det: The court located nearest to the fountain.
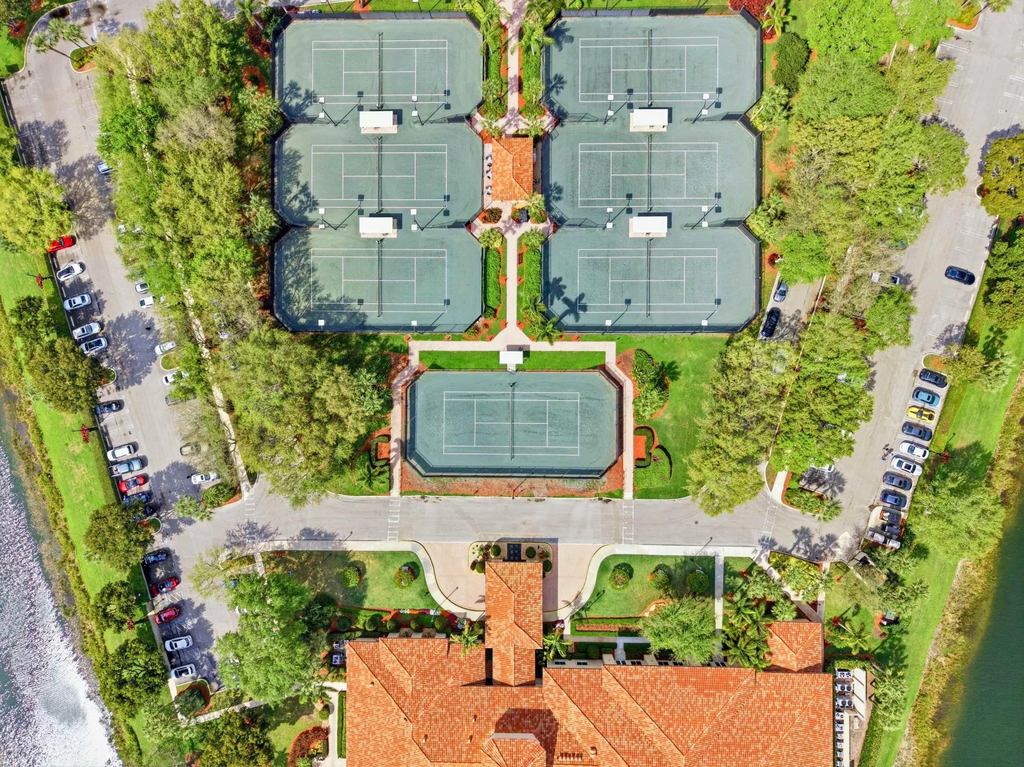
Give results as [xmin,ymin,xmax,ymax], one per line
[406,371,618,478]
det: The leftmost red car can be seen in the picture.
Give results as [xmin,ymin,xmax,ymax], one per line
[52,235,77,253]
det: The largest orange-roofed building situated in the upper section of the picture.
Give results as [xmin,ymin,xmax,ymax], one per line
[492,137,533,207]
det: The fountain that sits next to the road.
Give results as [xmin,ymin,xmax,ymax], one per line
[503,544,526,562]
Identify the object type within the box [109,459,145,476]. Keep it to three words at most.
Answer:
vehicle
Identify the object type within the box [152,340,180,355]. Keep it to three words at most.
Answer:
car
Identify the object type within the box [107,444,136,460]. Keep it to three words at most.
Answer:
car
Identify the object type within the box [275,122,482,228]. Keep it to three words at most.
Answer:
tennis court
